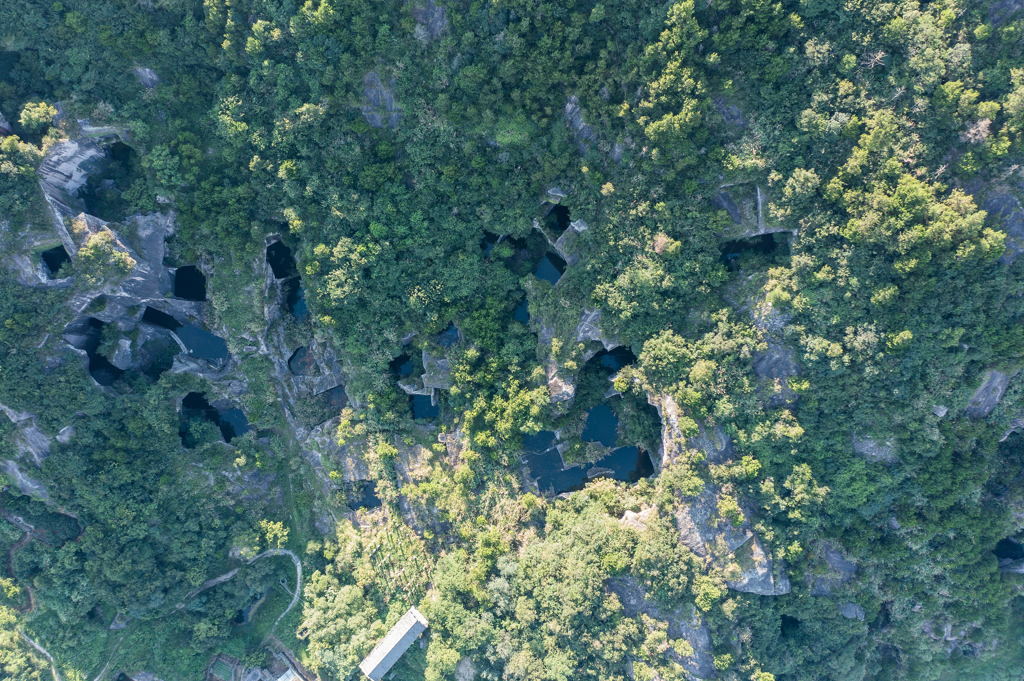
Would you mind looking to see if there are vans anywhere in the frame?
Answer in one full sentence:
No, I can't see a single van in this photo.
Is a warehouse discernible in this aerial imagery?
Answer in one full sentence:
No, there's no warehouse here.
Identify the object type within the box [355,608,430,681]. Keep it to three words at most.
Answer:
shed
